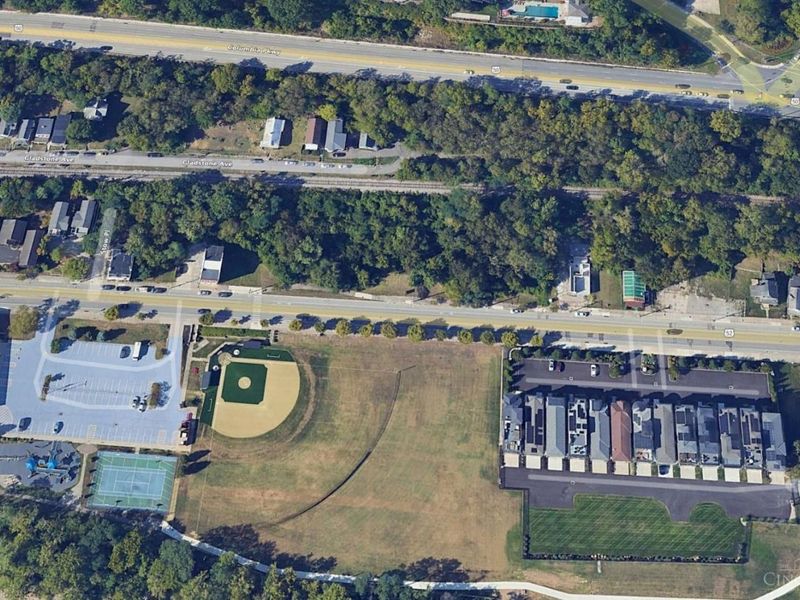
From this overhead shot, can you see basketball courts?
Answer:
No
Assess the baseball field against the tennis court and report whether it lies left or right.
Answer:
to the right of it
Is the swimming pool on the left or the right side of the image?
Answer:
right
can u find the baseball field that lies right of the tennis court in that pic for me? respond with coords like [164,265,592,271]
[168,336,502,583]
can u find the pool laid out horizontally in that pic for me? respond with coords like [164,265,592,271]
[500,0,590,27]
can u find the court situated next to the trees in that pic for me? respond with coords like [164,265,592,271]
[88,451,177,512]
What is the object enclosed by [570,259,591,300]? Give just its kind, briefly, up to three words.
building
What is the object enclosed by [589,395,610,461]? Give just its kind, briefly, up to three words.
house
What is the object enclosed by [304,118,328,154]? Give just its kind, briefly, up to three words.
house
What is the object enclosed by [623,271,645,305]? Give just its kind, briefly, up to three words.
building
